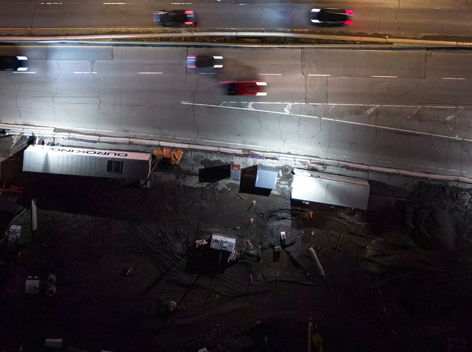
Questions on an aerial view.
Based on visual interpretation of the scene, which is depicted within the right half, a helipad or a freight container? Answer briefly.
freight container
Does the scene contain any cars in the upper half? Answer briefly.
Yes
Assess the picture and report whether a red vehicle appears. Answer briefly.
Yes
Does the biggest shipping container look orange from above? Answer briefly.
No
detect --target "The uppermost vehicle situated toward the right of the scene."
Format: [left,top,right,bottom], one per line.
[313,8,352,26]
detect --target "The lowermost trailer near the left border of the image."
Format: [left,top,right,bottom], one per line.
[24,143,150,180]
